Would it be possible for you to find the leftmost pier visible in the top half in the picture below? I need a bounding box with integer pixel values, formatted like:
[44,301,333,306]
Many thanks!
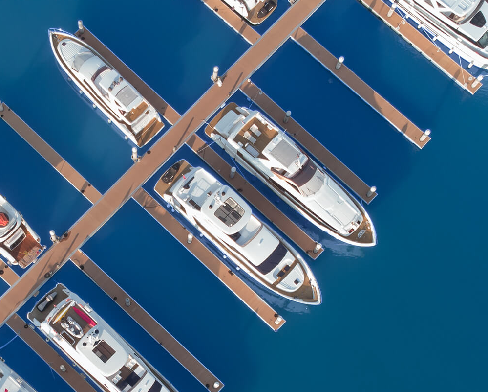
[0,102,102,204]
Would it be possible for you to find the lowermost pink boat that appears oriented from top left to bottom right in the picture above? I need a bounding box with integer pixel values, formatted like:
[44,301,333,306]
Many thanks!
[73,308,95,327]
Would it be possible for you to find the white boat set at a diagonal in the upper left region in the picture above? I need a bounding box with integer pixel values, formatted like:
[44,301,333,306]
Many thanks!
[47,28,164,149]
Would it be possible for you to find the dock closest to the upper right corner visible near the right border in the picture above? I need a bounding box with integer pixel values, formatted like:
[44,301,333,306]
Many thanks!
[362,0,483,94]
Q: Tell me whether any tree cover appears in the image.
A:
No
